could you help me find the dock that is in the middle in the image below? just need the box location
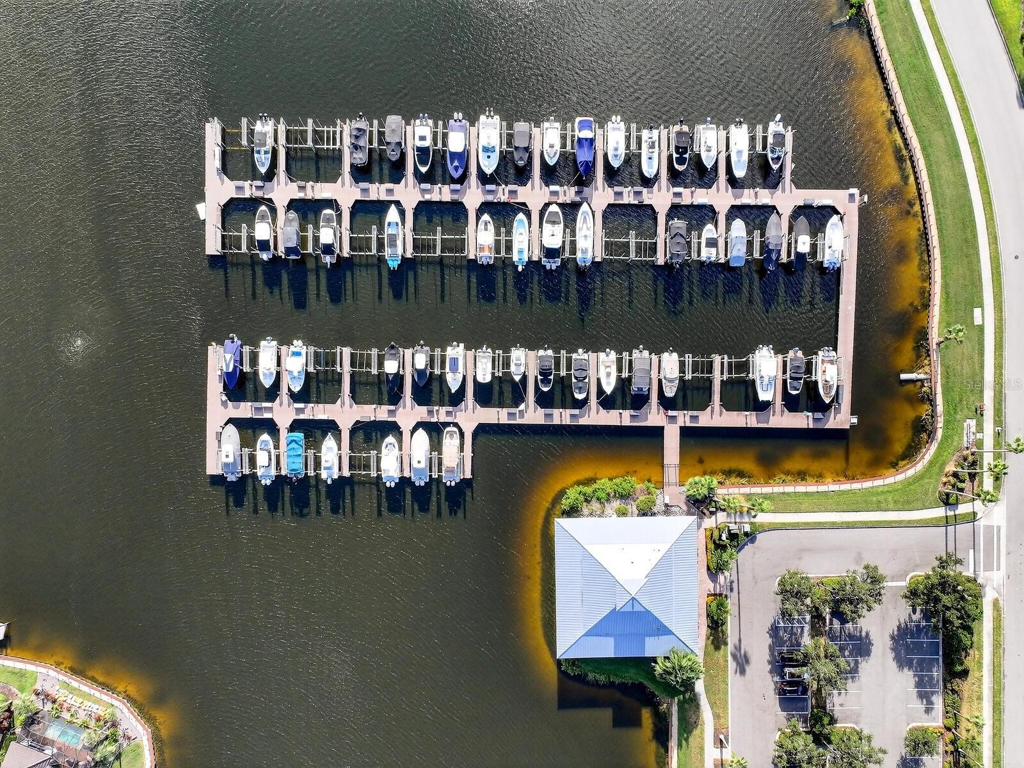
[203,121,862,487]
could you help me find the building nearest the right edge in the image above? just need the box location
[554,513,700,659]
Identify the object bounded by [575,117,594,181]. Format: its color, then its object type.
blue boat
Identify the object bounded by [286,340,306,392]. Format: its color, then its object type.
white boat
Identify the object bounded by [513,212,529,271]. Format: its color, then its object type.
white boat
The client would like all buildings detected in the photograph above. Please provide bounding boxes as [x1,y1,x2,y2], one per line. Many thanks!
[554,513,700,659]
[0,738,60,768]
